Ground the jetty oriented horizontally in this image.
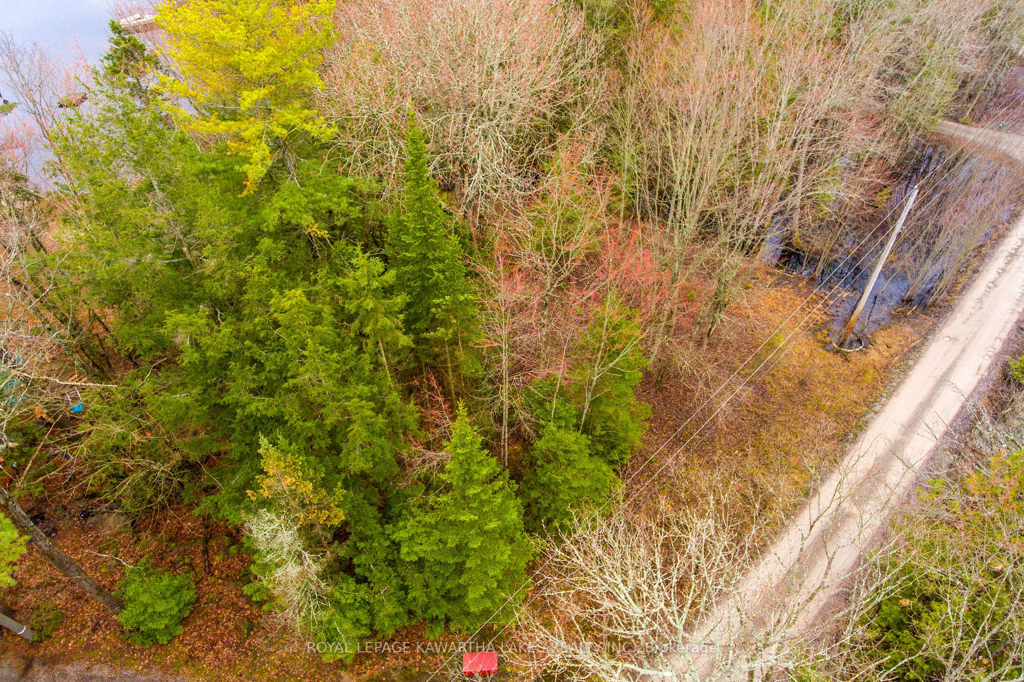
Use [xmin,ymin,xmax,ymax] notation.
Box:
[110,5,183,33]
